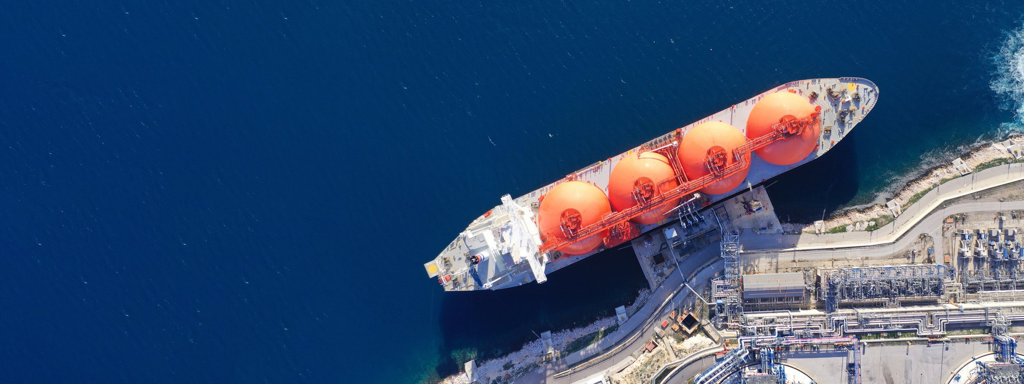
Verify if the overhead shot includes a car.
No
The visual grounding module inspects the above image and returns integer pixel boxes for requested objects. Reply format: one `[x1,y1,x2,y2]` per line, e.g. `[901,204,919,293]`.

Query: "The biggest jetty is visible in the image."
[631,185,784,292]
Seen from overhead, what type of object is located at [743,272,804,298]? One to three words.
shed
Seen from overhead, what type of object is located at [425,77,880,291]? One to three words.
ship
